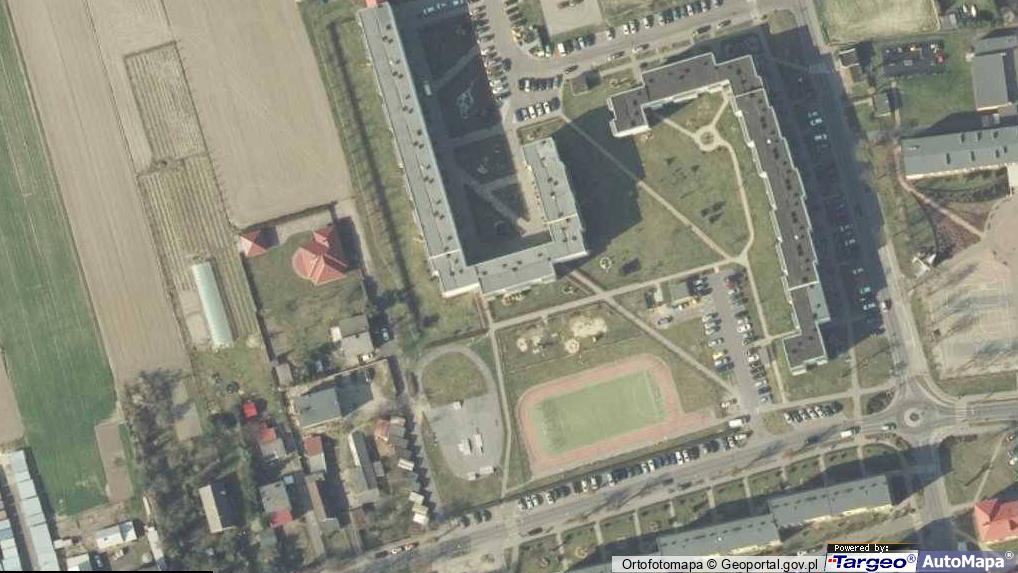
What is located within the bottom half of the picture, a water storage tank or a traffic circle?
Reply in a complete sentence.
The one visible within the bottom half of the picture is a traffic circle.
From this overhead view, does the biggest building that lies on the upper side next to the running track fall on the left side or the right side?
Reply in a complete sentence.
You can find the biggest building that lies on the upper side next to the running track on the right side of the picture.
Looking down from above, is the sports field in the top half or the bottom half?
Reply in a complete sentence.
Seen from above, the sports field lies in the bottom half of the view.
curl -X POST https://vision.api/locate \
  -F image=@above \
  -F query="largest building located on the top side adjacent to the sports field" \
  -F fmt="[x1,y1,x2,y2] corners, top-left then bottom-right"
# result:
[607,54,831,372]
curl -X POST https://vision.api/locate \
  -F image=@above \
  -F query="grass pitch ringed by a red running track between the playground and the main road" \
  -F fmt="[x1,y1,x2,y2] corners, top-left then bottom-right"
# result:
[515,351,720,480]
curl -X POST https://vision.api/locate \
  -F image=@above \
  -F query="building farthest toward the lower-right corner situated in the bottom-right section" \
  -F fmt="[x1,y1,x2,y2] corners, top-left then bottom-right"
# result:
[974,497,1018,546]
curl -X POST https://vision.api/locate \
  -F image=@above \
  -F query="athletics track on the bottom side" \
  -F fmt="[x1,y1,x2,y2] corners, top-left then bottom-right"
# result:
[517,353,717,477]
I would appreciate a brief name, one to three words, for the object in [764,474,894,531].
building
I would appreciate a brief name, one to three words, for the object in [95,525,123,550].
shed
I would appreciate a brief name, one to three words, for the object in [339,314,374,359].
house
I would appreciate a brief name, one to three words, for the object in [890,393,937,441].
roundabout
